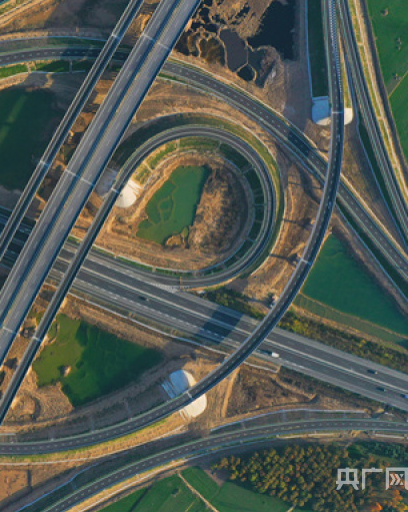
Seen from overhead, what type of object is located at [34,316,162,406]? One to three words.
pond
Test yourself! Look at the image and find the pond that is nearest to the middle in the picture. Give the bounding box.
[138,166,208,245]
